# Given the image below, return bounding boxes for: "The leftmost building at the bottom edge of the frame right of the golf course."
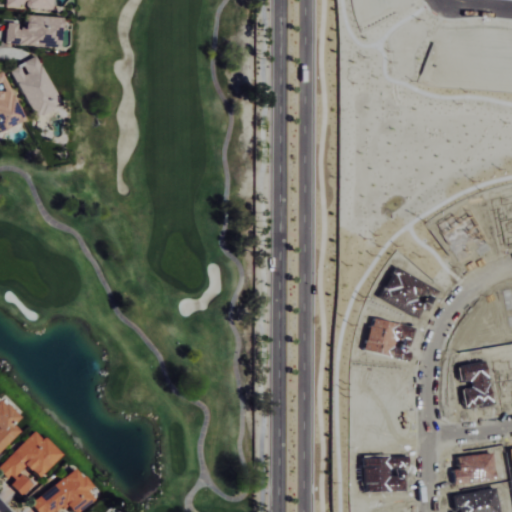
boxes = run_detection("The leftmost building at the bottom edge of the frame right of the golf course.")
[364,458,410,492]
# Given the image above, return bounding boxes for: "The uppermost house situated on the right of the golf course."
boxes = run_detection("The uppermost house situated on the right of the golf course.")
[383,270,440,318]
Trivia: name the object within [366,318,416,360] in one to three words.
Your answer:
house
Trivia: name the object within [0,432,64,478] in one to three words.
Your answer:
house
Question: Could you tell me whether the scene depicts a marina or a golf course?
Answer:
golf course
